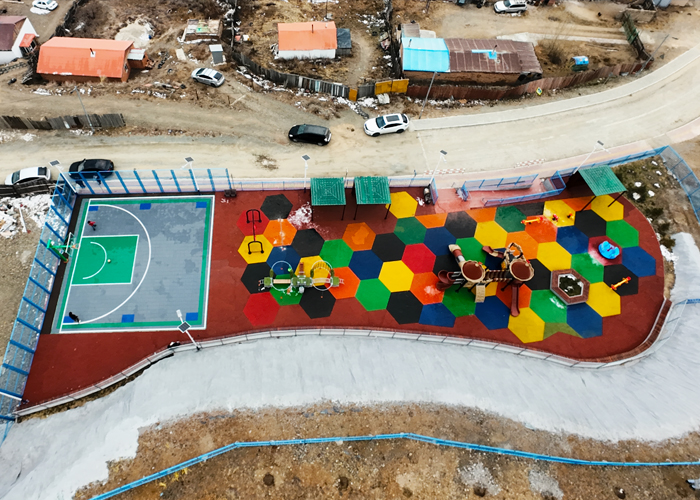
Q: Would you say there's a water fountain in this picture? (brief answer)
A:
No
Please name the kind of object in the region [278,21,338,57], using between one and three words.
house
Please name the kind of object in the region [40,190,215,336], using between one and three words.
basketball court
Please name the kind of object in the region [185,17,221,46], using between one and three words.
shed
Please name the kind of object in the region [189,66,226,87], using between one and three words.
car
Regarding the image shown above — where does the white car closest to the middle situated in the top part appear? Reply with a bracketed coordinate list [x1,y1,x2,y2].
[364,113,409,137]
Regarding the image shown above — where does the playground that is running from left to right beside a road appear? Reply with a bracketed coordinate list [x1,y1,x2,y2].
[21,173,671,409]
